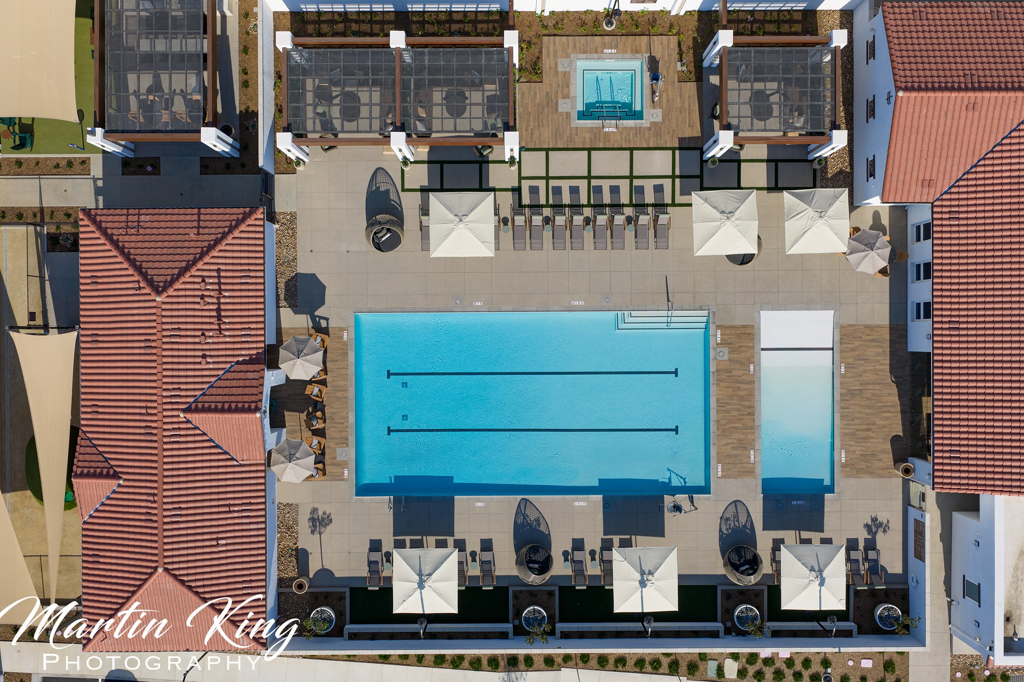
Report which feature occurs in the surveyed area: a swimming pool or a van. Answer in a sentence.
There is a swimming pool in the scene.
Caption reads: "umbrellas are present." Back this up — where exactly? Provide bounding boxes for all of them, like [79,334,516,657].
[393,548,458,614]
[429,192,494,257]
[270,438,316,484]
[783,188,850,254]
[780,544,847,611]
[691,190,758,255]
[844,228,892,275]
[279,336,323,380]
[612,546,679,613]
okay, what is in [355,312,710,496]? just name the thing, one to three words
swimming pool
